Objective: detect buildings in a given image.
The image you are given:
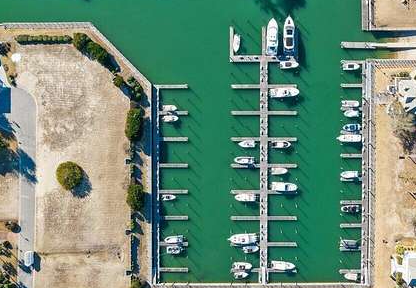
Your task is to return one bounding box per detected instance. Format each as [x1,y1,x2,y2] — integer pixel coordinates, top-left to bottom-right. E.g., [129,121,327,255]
[383,246,416,288]
[383,77,416,118]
